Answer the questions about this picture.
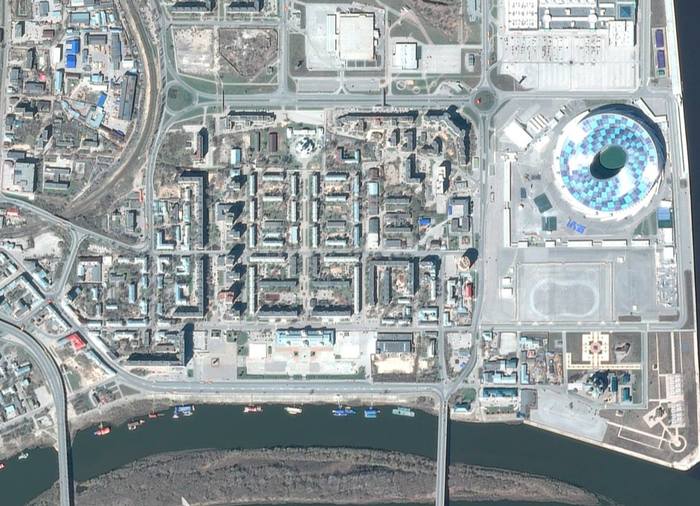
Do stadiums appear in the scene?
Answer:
Yes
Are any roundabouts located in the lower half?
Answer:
No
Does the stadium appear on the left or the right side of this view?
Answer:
right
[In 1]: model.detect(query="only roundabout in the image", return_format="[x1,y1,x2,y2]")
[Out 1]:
[470,84,500,116]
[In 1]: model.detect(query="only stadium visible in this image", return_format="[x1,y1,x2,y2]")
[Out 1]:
[550,103,669,221]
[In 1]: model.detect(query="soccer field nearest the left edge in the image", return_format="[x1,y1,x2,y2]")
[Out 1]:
[591,142,628,179]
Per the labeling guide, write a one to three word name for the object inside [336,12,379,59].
building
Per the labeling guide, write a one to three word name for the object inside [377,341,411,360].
building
